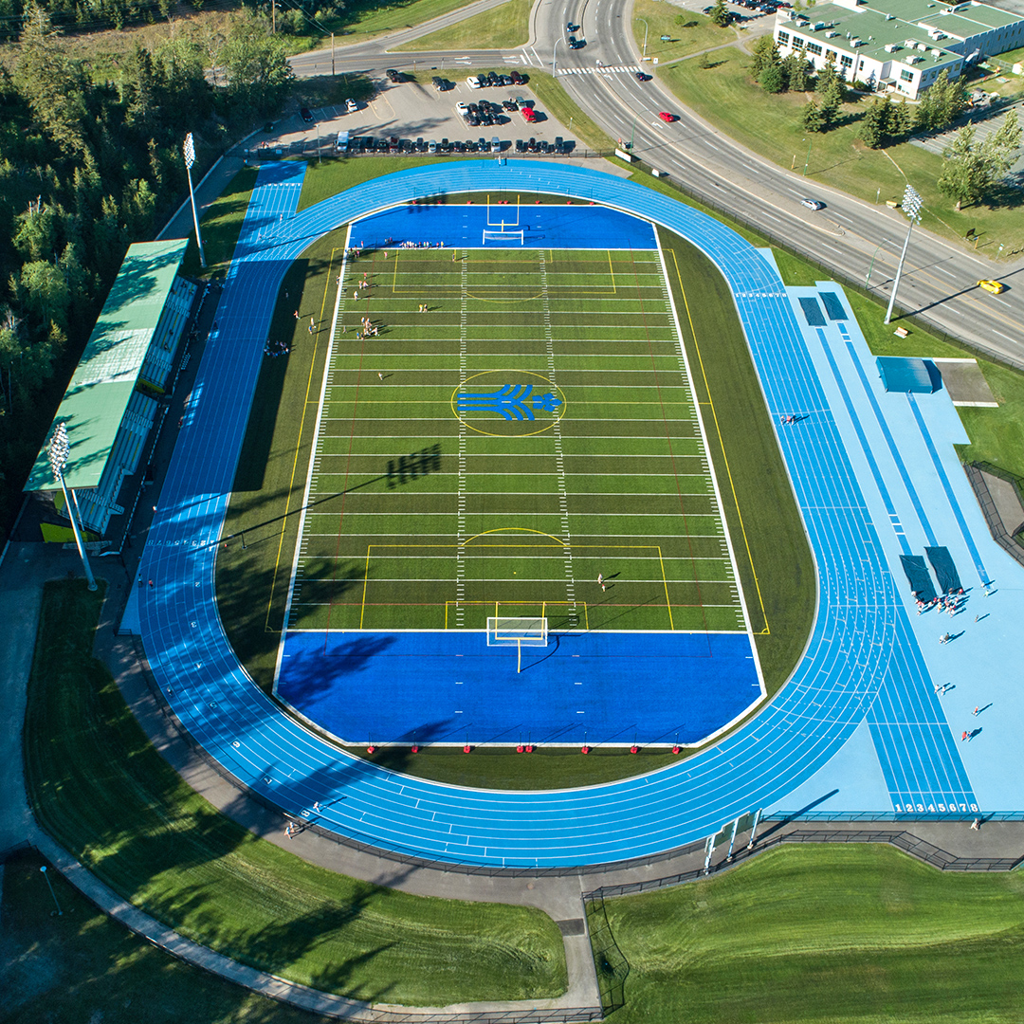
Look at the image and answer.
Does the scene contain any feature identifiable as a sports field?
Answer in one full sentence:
Yes, you can see a sports field in this photo.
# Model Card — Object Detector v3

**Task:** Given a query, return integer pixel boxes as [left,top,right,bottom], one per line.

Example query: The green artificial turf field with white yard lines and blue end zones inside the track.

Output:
[214,190,817,791]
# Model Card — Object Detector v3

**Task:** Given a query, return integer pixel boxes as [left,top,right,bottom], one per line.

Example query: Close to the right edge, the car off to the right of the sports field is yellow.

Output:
[978,275,1005,291]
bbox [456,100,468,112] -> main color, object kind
white vehicle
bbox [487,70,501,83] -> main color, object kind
black vehicle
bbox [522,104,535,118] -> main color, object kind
red vehicle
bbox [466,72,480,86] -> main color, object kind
white car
